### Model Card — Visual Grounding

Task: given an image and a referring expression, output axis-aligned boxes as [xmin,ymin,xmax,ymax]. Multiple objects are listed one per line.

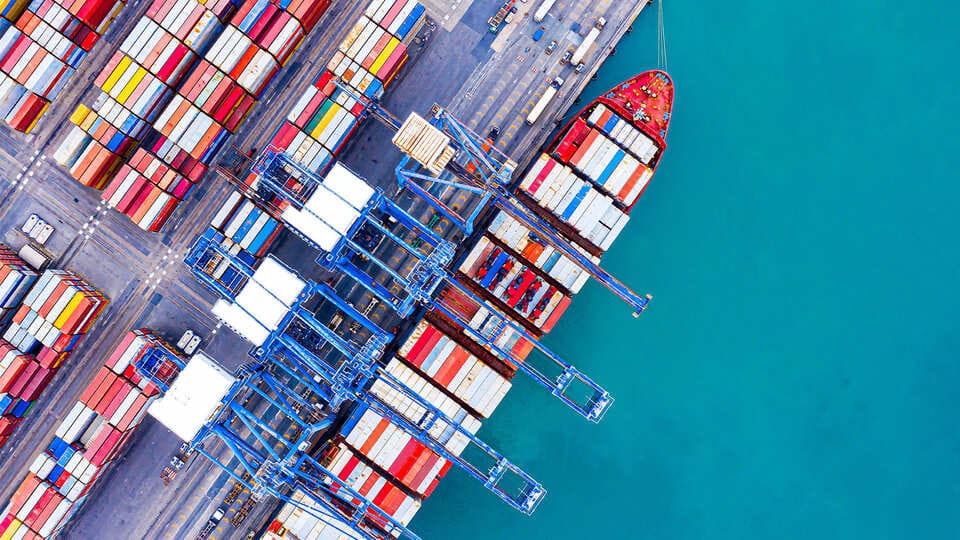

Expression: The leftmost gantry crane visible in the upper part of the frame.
[213,138,300,212]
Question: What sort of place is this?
port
